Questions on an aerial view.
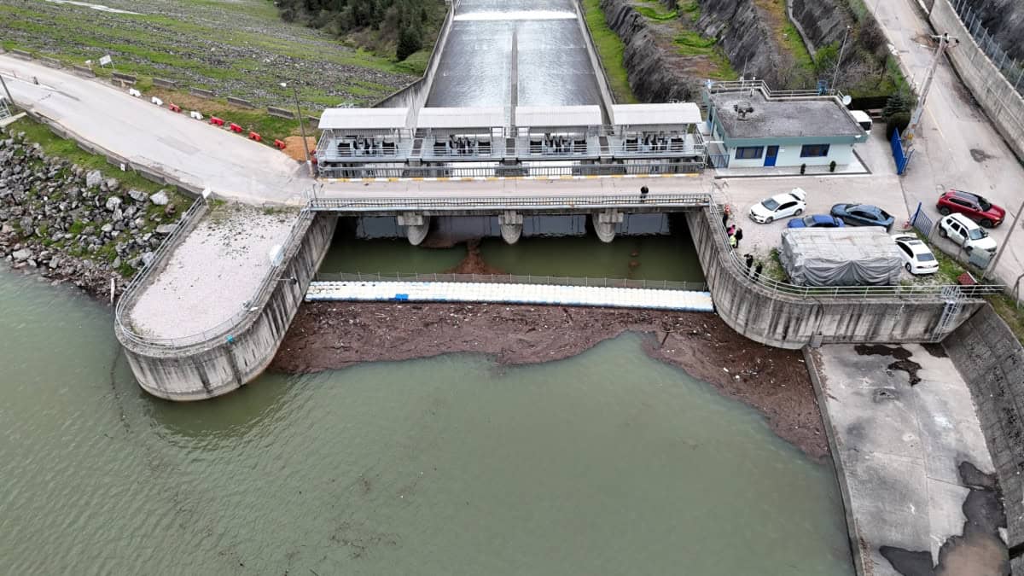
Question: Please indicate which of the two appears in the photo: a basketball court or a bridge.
bridge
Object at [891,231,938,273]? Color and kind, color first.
white car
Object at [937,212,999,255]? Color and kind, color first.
white car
